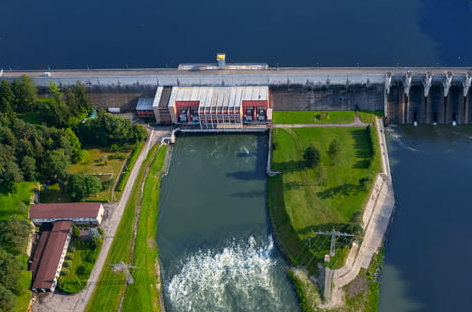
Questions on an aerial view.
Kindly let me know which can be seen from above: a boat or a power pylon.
power pylon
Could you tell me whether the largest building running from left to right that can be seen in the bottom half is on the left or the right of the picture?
left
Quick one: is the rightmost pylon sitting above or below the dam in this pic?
below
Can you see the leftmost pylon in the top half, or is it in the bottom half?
bottom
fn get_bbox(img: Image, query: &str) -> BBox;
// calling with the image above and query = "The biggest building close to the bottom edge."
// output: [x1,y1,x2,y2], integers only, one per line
[34,218,73,297]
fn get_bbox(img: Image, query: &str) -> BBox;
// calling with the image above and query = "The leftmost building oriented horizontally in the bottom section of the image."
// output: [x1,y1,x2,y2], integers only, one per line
[27,203,105,224]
